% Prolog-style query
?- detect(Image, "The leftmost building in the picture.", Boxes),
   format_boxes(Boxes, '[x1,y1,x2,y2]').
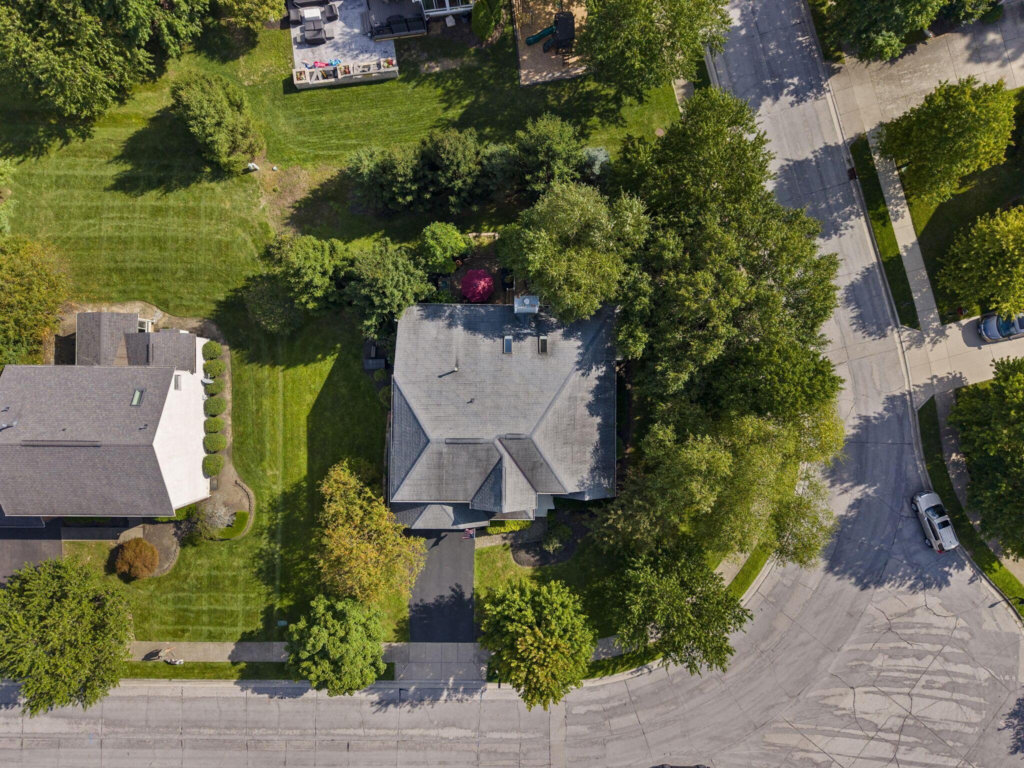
[0,312,216,529]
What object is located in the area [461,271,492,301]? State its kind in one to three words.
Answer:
umbrella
